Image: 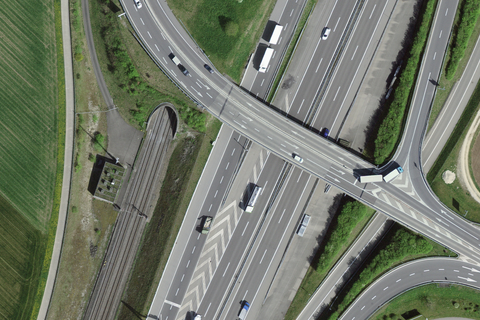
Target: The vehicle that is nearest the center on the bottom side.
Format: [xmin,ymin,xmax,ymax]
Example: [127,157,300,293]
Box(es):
[245,186,262,212]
